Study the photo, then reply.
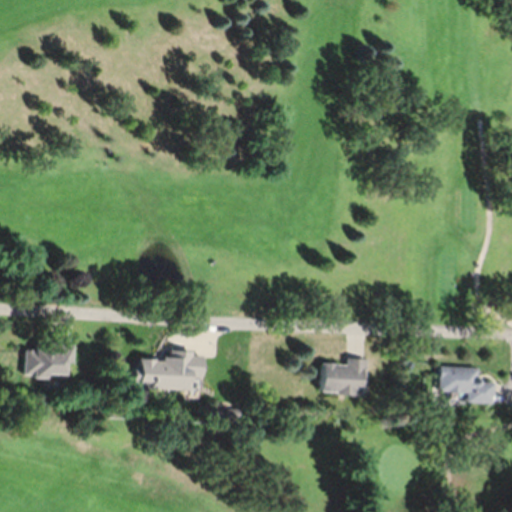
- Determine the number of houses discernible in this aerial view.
4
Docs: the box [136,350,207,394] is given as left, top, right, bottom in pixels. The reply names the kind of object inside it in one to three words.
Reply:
house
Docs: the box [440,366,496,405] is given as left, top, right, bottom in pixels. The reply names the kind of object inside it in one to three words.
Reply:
house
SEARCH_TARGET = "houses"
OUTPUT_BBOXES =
[136,350,207,394]
[322,358,368,398]
[25,338,77,381]
[440,366,496,405]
